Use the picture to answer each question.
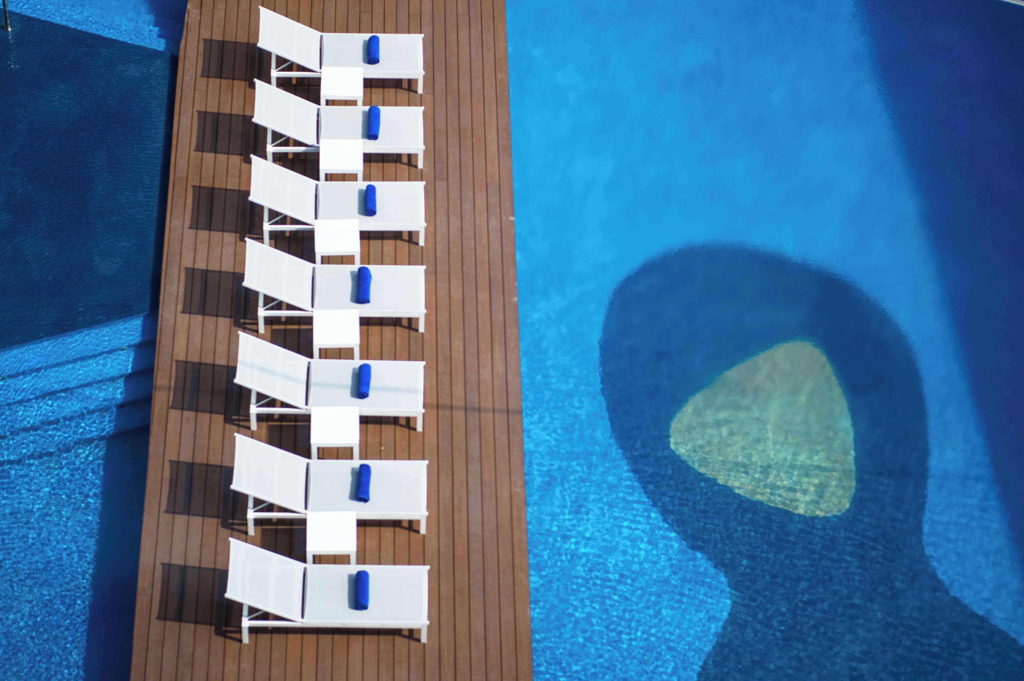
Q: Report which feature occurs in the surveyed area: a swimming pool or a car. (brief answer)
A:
swimming pool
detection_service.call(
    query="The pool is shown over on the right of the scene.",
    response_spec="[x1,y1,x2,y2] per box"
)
[505,0,1024,681]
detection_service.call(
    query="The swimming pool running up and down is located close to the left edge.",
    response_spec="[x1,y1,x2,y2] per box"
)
[0,0,188,681]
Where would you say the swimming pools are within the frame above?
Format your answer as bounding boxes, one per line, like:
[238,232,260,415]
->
[0,0,188,681]
[505,0,1024,681]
